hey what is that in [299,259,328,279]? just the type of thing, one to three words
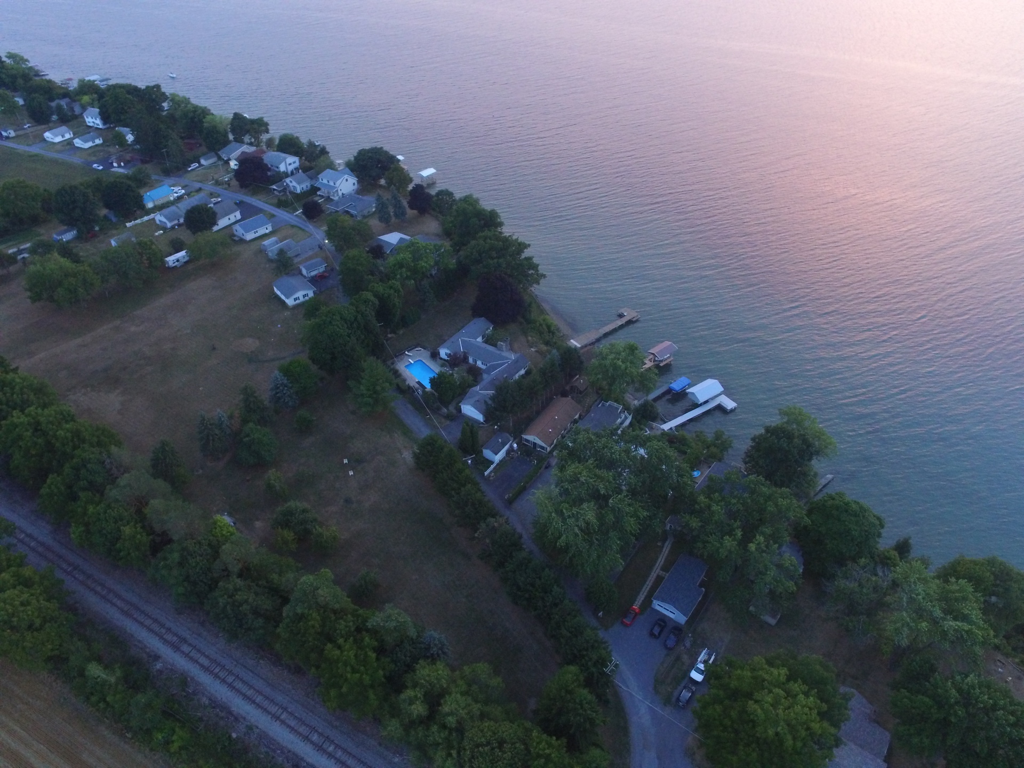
building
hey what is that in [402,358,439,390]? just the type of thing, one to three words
swimming pool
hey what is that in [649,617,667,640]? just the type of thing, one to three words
car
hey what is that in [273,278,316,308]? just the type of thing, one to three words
house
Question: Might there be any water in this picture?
Yes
